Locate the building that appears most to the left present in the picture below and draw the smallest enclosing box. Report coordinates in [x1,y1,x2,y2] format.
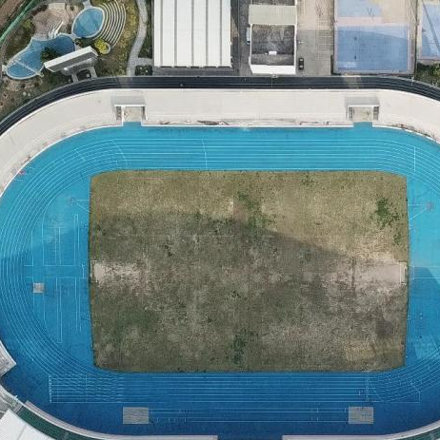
[153,0,236,73]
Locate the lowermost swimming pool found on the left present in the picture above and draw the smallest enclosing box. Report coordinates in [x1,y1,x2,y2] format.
[2,33,78,80]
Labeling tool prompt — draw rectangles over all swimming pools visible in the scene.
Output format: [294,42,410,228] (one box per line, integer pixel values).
[71,6,106,38]
[2,33,78,80]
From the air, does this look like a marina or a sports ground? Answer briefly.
sports ground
